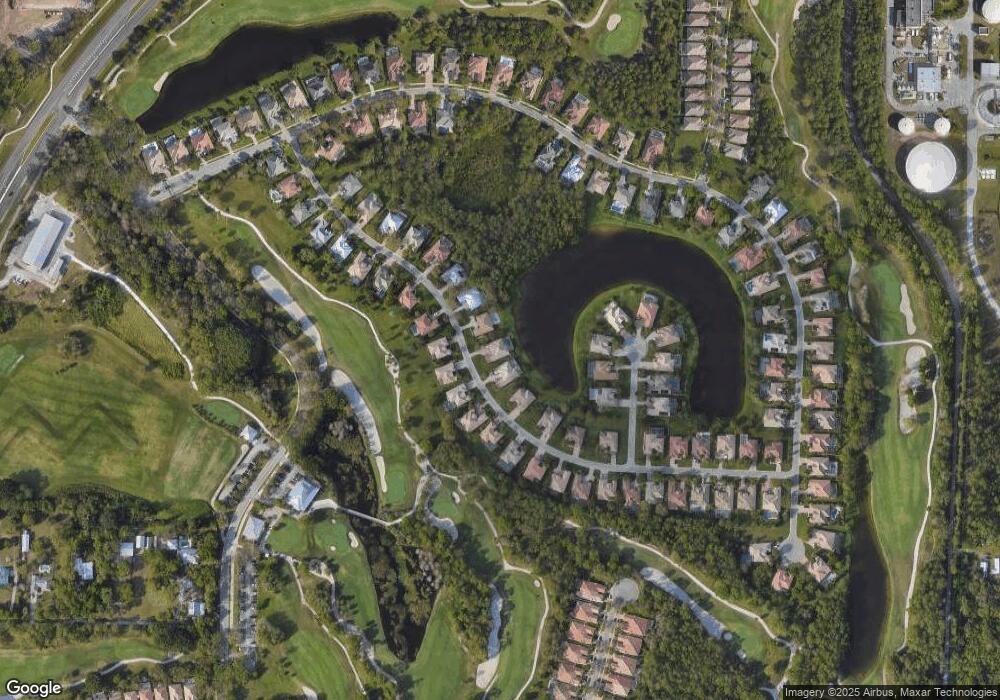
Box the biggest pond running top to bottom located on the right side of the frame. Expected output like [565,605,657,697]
[840,484,890,678]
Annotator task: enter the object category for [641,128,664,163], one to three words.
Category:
house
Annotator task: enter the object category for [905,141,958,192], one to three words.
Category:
storage tank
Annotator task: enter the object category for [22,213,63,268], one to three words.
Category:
building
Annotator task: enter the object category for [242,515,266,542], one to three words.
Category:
barn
